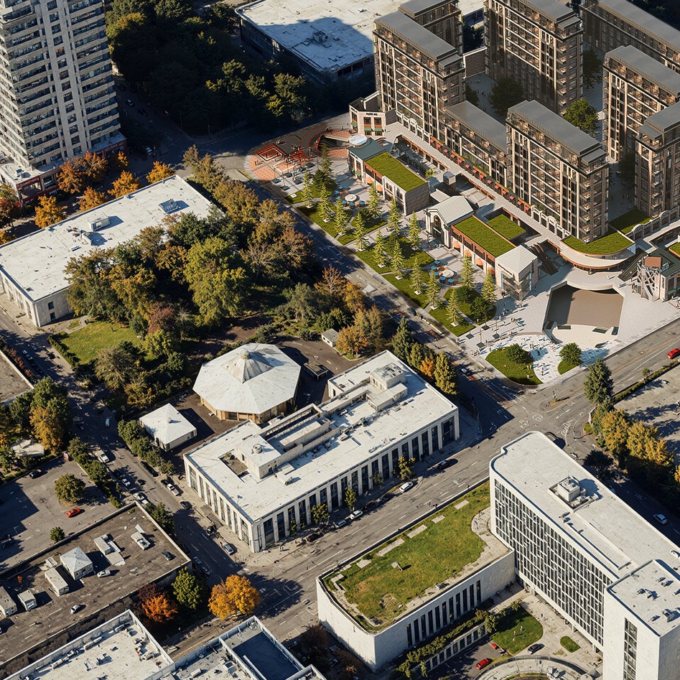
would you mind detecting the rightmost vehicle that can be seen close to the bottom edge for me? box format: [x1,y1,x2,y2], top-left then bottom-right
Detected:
[524,641,546,658]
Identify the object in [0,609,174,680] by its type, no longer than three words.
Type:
building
